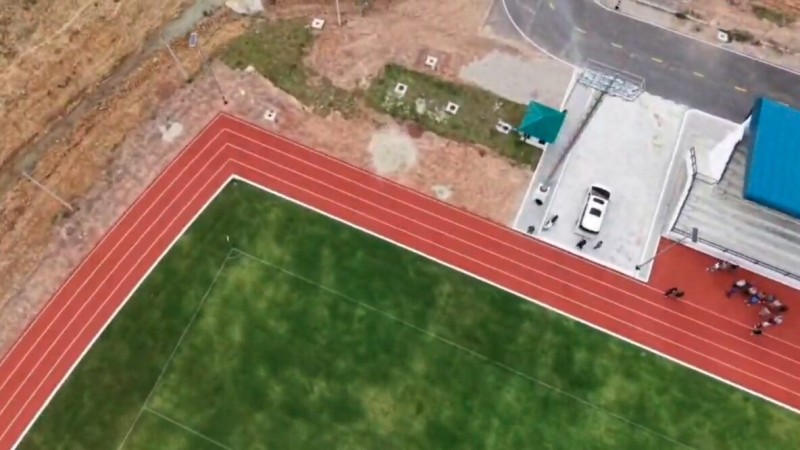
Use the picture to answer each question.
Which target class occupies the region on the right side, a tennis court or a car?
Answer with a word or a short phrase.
car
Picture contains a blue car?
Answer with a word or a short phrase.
No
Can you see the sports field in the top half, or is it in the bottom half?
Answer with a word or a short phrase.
bottom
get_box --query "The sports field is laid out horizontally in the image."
[12,177,800,450]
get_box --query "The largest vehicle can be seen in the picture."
[576,186,611,240]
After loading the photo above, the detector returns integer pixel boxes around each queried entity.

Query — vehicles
[576,186,611,240]
[541,214,557,230]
